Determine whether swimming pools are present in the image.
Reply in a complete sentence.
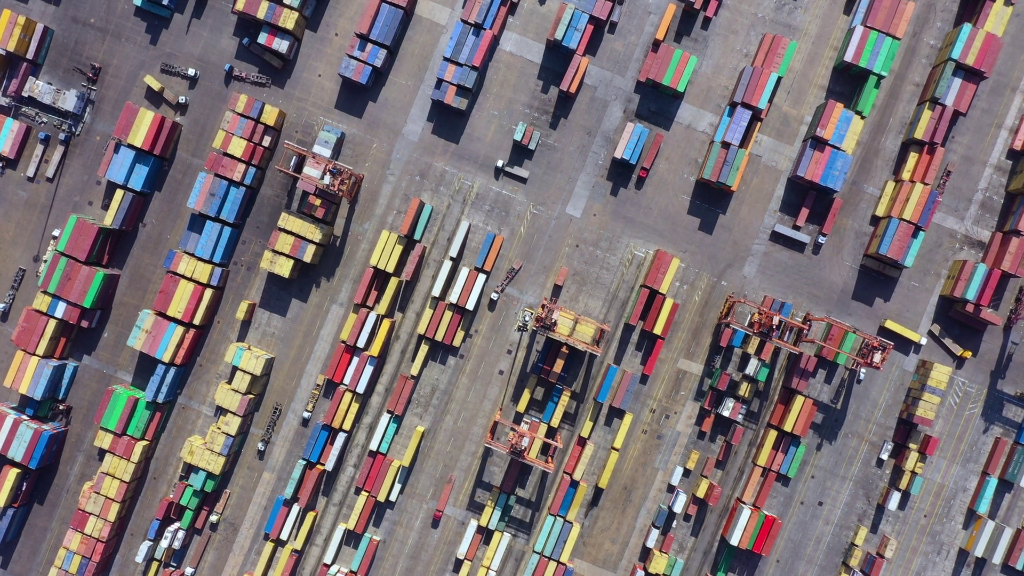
No, no swimming pool is visible in the view.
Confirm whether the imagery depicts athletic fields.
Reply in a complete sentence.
No, there isn't any athletic field down there.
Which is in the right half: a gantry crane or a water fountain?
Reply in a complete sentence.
Looking in the right half, you will find a gantry crane.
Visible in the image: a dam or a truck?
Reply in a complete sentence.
I can see a truck in this picture.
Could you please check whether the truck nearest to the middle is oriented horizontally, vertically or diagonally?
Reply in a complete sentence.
The truck nearest to the middle is laid out diagonally.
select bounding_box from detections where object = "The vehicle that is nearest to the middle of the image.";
[489,259,523,304]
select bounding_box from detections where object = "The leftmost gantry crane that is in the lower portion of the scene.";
[485,404,563,474]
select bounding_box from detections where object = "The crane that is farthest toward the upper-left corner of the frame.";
[275,141,360,203]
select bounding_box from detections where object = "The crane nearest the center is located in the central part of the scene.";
[531,296,611,359]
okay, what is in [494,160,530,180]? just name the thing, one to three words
vehicle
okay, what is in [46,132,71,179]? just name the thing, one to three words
truck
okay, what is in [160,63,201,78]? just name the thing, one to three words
vehicle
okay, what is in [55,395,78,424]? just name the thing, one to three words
work vehicle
